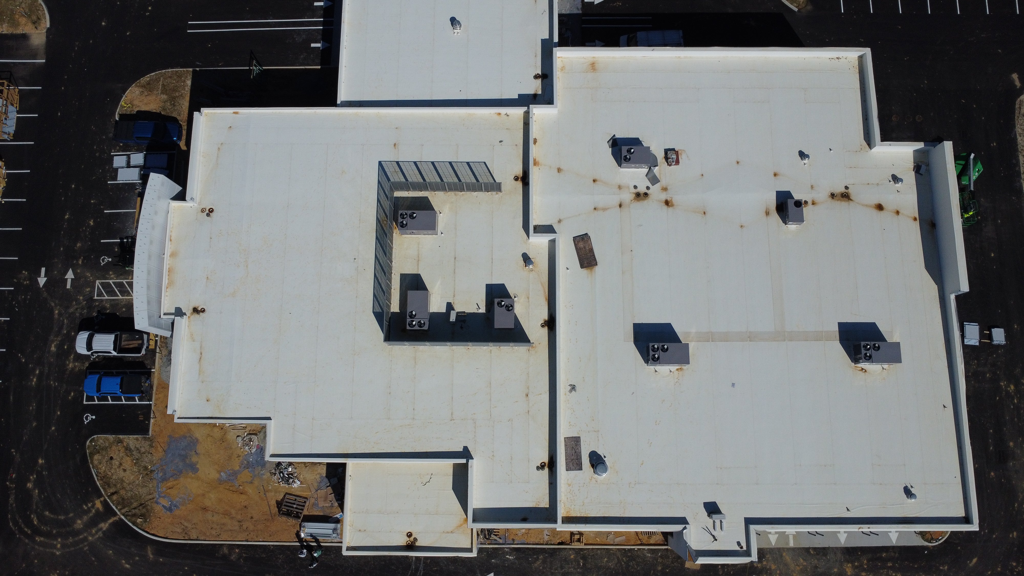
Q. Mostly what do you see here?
buildings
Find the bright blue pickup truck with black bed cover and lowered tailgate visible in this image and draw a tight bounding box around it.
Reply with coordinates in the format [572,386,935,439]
[81,371,153,400]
